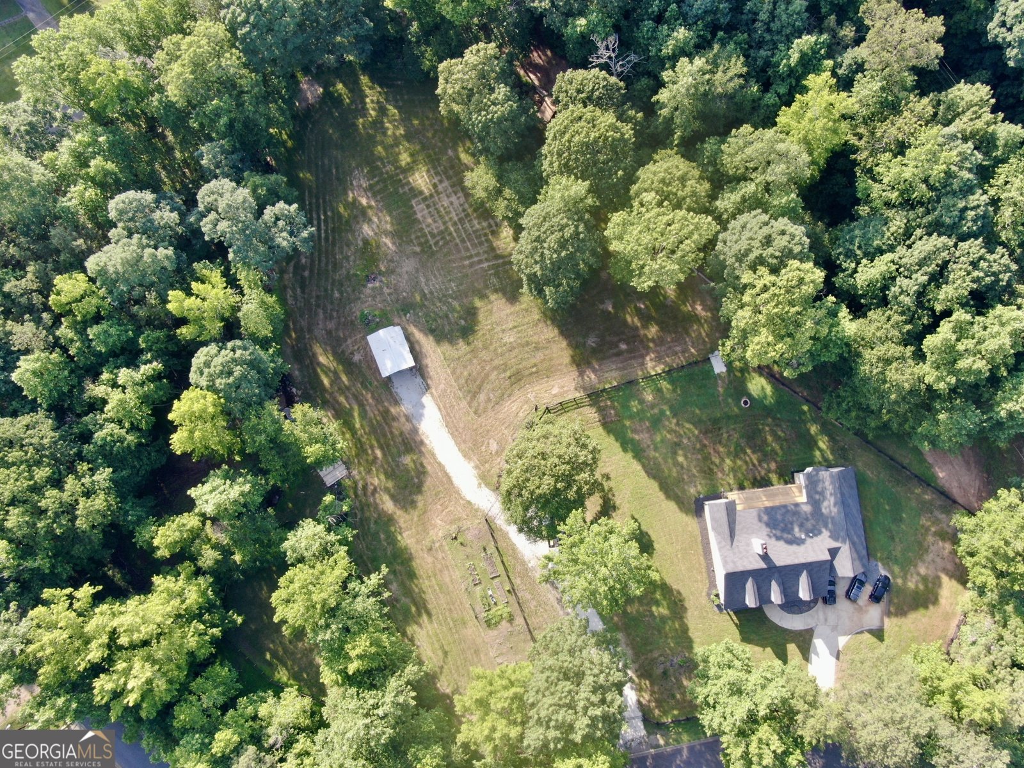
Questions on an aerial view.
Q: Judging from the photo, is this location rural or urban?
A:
rural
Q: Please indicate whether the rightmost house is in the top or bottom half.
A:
bottom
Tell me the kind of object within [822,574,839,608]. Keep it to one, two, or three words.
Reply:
vehicle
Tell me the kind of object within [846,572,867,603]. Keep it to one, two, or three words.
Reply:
car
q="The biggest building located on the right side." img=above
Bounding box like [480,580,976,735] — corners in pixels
[706,461,869,611]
